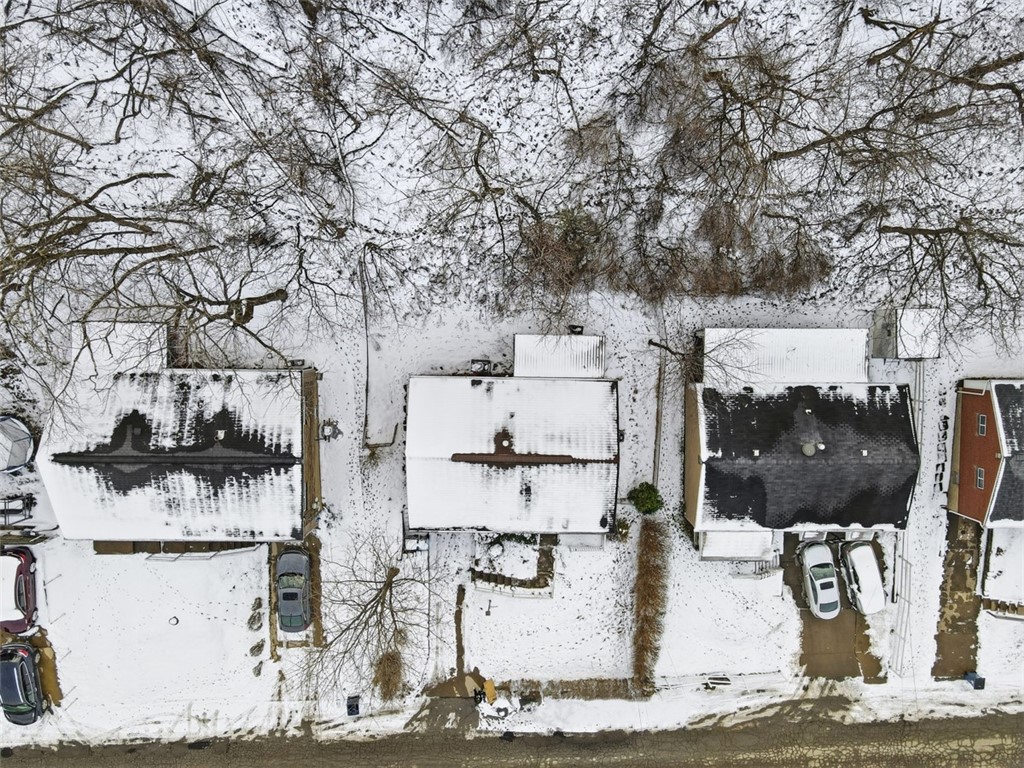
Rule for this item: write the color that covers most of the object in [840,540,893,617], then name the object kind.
white car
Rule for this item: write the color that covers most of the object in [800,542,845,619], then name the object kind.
white car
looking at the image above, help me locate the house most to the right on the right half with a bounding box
[947,379,1024,528]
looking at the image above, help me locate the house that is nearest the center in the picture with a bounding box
[404,334,622,553]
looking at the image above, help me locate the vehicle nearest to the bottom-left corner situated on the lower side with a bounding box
[0,646,42,729]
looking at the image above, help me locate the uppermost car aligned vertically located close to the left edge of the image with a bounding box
[0,551,36,636]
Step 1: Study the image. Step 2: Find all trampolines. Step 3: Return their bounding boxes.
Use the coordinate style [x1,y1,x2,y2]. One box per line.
[0,410,41,478]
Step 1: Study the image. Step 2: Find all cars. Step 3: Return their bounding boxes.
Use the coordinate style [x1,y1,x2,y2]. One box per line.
[0,551,36,636]
[269,551,311,633]
[840,540,893,617]
[0,646,42,729]
[800,542,845,619]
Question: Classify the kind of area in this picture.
residential area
